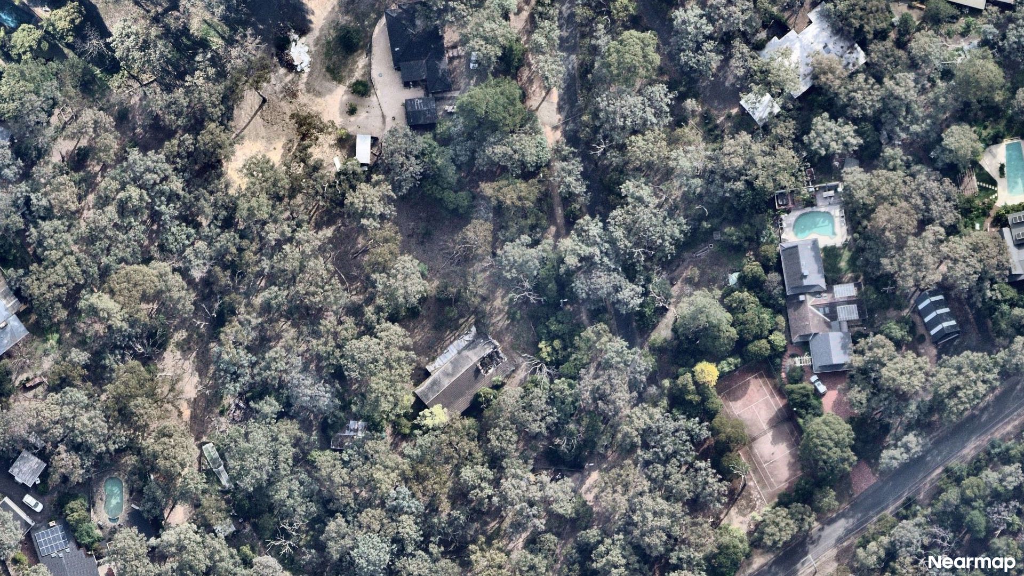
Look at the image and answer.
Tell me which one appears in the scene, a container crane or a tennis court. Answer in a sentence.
It is a tennis court that can be seen here.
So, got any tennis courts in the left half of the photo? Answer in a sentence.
No, no tennis court is visible in the left half of the photo.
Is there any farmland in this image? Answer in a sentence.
No, the scene doesn't show any farmland.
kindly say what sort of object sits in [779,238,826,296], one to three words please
building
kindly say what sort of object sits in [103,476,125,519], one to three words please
swimming pool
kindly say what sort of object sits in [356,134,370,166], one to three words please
shed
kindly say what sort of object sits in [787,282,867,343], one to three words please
house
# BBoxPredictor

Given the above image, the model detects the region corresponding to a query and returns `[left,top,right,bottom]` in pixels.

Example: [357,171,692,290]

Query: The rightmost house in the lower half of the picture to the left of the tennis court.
[416,326,516,415]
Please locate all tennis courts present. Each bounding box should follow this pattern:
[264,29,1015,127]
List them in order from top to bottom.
[705,359,829,508]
